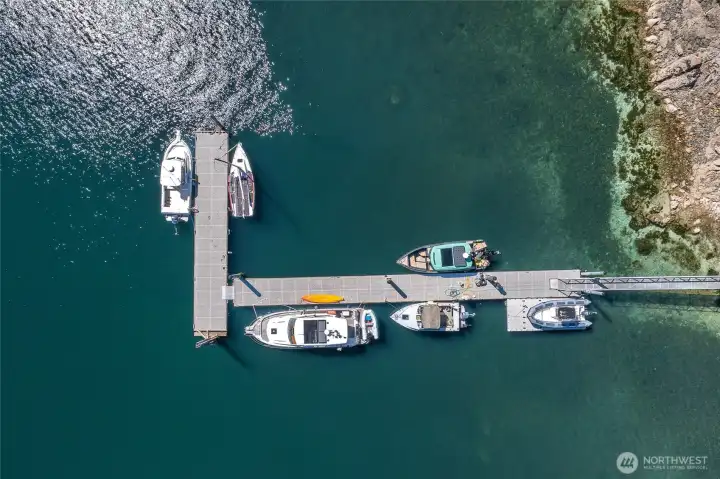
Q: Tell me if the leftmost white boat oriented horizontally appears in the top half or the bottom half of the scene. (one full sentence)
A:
It is in the bottom half that the leftmost white boat oriented horizontally appears.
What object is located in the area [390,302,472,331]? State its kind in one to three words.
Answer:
boat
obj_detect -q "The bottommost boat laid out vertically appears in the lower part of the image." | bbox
[362,309,379,346]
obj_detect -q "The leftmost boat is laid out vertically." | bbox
[161,129,194,230]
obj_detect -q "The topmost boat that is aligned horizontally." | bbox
[397,241,499,274]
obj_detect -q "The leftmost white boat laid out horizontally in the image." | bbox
[245,308,373,350]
